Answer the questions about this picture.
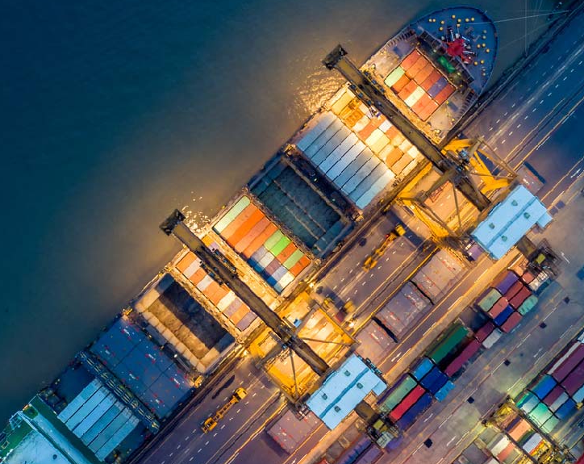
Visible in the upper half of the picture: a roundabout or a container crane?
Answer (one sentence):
The one visible in the upper half of the picture is a container crane.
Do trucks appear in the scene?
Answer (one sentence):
Yes, this view includes a truck.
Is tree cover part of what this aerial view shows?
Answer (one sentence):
No, there is no tree cover in the image.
